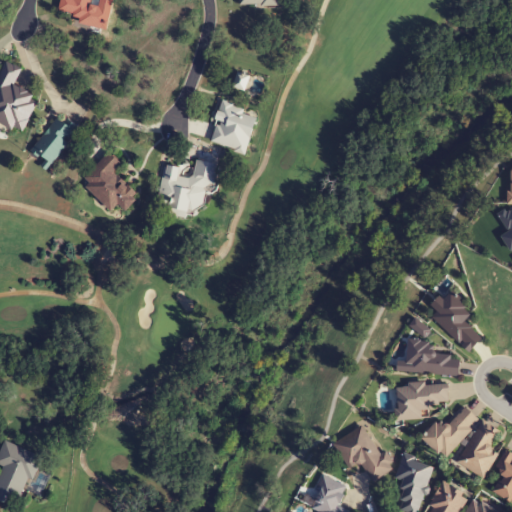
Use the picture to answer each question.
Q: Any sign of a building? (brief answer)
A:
Yes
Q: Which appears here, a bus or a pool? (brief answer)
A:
pool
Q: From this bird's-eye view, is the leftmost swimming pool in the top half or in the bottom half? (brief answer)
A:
bottom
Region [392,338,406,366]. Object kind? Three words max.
swimming pool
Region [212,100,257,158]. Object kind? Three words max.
house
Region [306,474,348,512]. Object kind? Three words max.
house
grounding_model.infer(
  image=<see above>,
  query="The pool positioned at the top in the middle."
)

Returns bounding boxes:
[238,70,266,99]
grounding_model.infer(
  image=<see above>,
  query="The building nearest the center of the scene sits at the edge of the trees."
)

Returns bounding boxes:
[160,159,216,212]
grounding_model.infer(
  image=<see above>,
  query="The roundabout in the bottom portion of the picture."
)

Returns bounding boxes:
[473,354,512,424]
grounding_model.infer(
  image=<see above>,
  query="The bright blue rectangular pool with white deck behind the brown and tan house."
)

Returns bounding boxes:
[378,384,396,413]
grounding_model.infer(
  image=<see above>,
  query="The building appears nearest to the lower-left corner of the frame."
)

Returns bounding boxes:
[0,441,40,498]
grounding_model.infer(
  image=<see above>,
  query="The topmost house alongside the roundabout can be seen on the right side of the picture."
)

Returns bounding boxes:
[433,292,485,352]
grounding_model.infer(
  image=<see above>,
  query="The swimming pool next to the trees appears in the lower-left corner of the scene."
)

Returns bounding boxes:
[28,470,50,492]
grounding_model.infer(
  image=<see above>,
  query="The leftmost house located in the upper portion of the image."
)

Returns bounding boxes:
[0,61,34,132]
